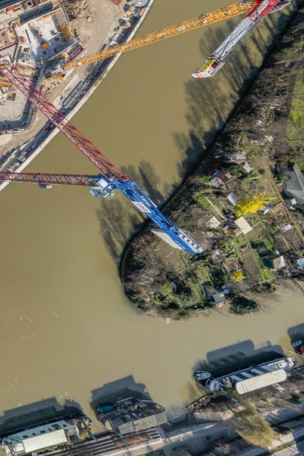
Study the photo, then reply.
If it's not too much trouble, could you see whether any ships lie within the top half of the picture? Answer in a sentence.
No, there is no ship within the top half of the picture.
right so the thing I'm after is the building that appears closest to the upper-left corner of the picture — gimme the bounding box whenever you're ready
[10,8,77,70]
